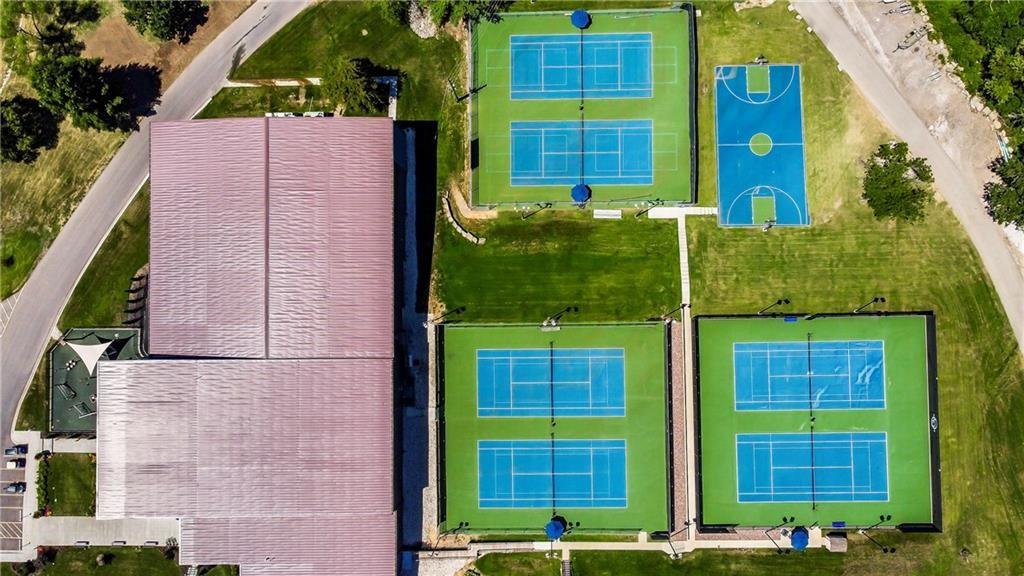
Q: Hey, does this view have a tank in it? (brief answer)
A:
No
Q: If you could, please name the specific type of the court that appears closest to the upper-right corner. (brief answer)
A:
basketball court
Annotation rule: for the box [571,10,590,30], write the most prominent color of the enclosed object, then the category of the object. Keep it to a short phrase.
blue umbrella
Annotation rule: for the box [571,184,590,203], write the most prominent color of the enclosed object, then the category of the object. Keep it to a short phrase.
blue umbrella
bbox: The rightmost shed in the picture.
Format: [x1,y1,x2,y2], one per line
[832,535,854,556]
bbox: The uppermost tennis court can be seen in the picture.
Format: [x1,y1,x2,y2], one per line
[471,12,690,110]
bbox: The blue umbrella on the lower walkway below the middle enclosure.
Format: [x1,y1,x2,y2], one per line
[545,518,564,538]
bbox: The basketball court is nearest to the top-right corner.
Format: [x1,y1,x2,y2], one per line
[715,63,811,227]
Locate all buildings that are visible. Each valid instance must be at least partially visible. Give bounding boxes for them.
[832,535,854,556]
[95,114,403,576]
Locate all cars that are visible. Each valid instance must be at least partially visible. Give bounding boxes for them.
[2,458,26,470]
[0,483,25,496]
[2,445,26,457]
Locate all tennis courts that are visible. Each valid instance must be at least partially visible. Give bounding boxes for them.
[440,324,667,429]
[472,108,691,206]
[696,317,929,422]
[696,420,932,527]
[471,12,690,110]
[442,428,669,532]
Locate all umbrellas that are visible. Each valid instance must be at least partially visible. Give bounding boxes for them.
[571,10,590,30]
[788,527,808,547]
[545,518,564,538]
[571,184,590,203]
